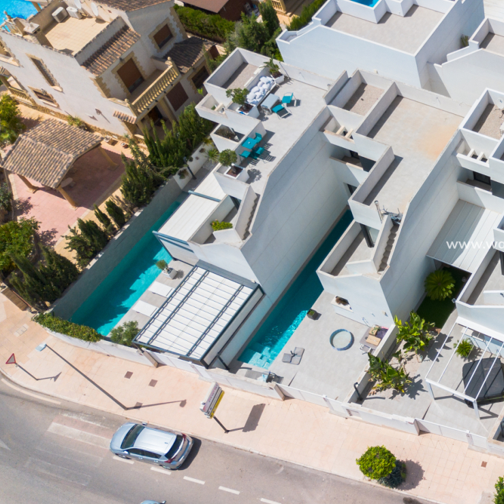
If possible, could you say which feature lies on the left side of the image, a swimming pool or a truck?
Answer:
swimming pool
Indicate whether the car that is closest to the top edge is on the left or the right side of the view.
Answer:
left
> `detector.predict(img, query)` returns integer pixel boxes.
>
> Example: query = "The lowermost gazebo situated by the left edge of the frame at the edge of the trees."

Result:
[0,116,119,209]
